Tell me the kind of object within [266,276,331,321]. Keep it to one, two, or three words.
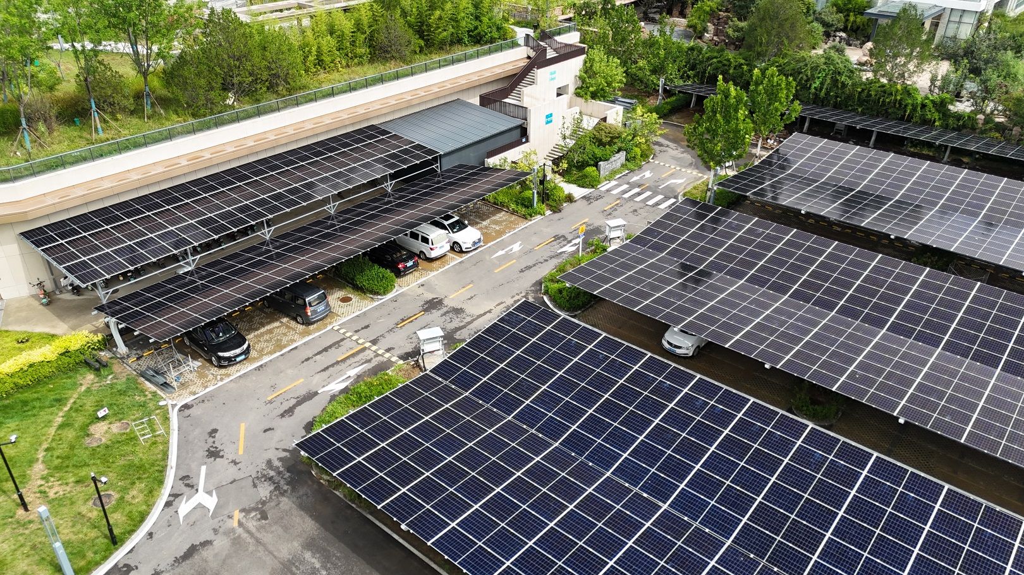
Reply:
car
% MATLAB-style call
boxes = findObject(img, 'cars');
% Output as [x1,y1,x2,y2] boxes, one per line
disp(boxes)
[660,326,707,356]
[181,315,254,366]
[355,236,418,272]
[266,276,331,321]
[431,214,486,252]
[398,221,450,258]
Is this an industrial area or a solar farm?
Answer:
solar farm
